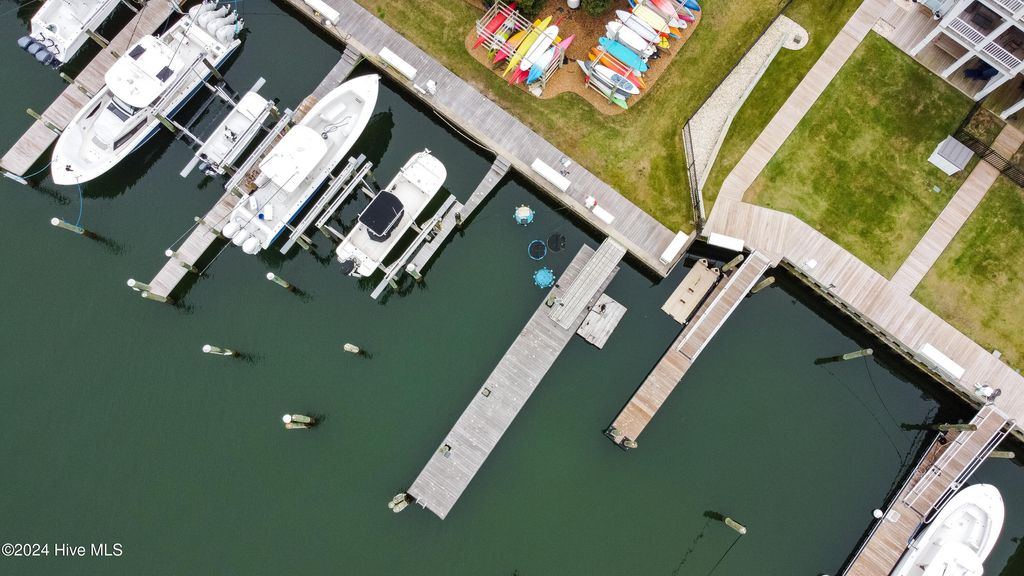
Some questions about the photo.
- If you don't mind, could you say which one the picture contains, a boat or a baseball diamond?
boat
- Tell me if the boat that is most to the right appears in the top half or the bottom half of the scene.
bottom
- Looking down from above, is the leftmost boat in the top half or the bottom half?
top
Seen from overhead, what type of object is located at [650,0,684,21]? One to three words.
boat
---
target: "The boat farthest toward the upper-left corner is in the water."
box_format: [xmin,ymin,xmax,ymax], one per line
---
[16,0,139,81]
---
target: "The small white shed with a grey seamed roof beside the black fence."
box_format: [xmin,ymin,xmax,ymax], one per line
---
[928,133,979,175]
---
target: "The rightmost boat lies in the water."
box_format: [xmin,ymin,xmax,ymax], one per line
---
[893,483,1003,576]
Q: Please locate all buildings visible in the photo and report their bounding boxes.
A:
[928,133,979,175]
[873,0,1024,137]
